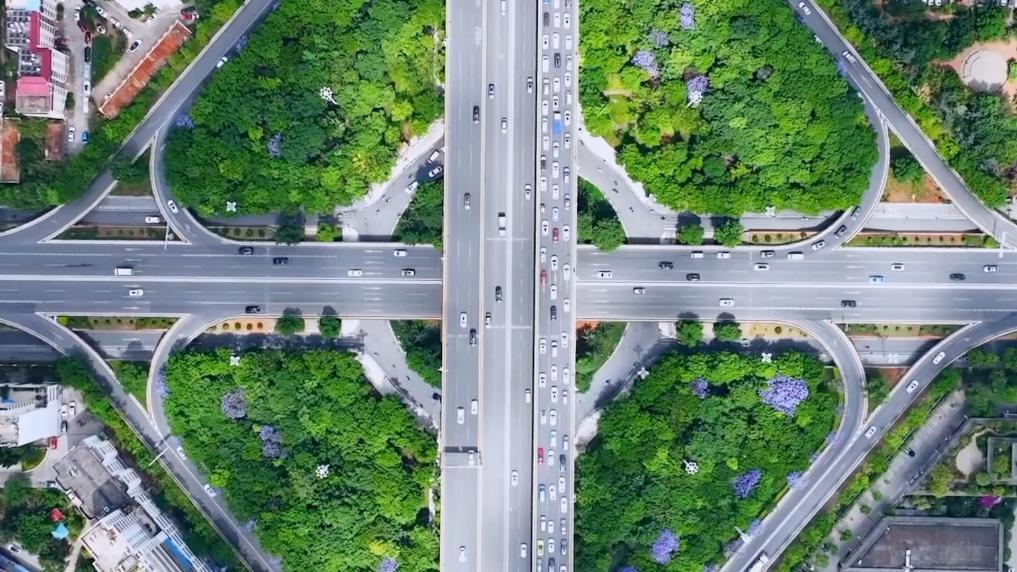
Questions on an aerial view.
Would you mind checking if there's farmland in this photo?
No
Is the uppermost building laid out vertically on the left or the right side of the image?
left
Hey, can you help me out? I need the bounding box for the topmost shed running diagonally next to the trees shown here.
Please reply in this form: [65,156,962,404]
[97,20,193,118]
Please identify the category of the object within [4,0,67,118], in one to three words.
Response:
building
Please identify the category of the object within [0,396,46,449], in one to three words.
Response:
building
